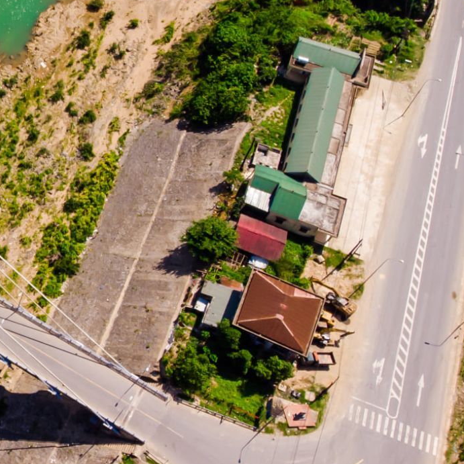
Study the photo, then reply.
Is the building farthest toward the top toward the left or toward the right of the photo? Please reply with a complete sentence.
It is on the right.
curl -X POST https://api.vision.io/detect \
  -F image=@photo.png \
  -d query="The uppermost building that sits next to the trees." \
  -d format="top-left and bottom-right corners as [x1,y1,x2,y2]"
[277,37,377,101]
